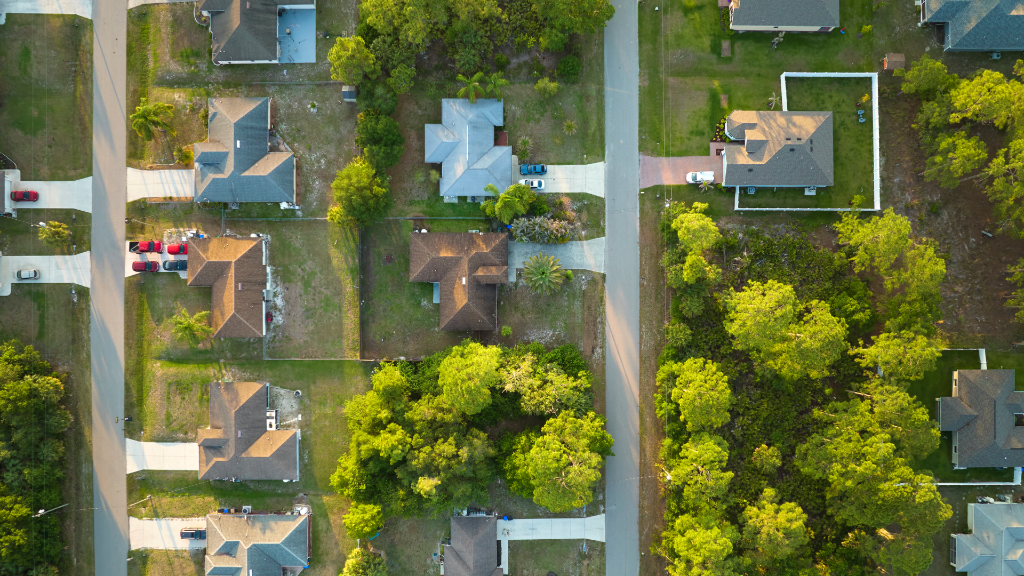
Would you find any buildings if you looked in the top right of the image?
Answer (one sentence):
Yes, looking in the top right of the image, one can make out a building.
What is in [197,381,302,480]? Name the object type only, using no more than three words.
house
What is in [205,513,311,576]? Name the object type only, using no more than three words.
house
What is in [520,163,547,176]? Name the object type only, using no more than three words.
vehicle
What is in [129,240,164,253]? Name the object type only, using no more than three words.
vehicle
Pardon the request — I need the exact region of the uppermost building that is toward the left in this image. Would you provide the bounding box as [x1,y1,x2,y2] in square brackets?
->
[198,0,317,66]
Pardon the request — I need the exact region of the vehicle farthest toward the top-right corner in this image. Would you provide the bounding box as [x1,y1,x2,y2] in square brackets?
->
[685,171,715,184]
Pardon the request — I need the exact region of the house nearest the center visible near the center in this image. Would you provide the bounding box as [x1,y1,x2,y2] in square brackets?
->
[409,232,509,331]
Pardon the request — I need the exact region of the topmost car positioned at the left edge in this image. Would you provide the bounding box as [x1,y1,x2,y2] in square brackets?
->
[11,190,41,203]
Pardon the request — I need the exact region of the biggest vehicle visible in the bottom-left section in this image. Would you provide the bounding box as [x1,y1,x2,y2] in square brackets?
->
[180,527,206,541]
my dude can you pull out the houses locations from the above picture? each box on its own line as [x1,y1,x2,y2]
[933,369,1024,468]
[409,232,509,331]
[192,97,297,203]
[205,513,311,576]
[718,0,840,31]
[948,503,1024,576]
[198,0,317,66]
[424,98,512,197]
[721,111,833,187]
[919,0,1024,53]
[187,237,268,338]
[0,170,14,215]
[443,515,503,576]
[197,381,302,480]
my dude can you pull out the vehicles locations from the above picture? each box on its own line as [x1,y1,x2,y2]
[167,242,187,255]
[164,259,187,271]
[132,259,160,272]
[520,163,547,176]
[15,268,41,281]
[520,178,545,191]
[129,240,164,253]
[11,190,41,203]
[180,527,206,541]
[685,171,715,184]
